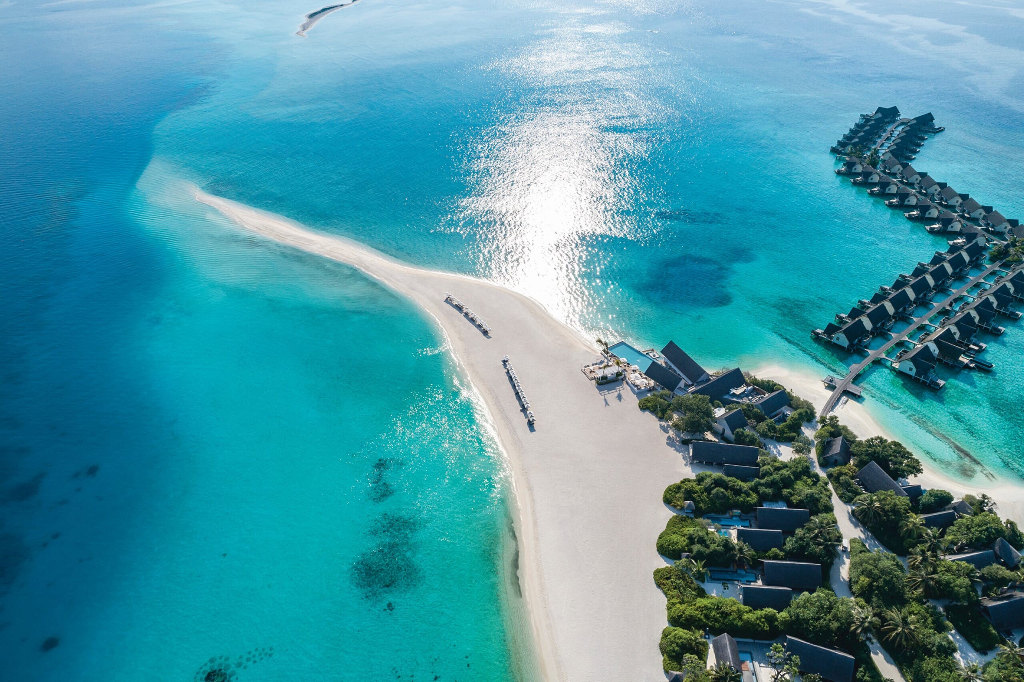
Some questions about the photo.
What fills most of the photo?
water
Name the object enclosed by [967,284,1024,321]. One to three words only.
house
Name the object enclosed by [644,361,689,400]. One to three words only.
building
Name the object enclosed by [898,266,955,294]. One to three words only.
house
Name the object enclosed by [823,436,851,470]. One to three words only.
shed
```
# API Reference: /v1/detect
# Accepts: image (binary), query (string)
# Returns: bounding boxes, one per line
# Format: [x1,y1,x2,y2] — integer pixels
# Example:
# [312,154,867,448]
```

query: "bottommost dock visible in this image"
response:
[814,249,1023,429]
